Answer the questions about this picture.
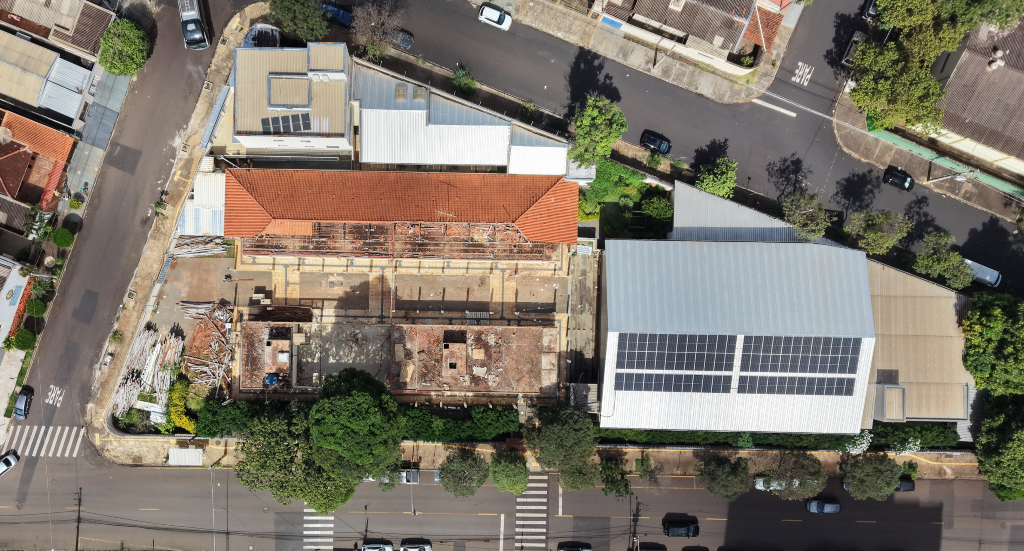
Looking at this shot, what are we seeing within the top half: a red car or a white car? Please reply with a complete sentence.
What appears within the top half is a white car.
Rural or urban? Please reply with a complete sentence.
The area shown here is urban.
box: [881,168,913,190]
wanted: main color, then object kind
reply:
black car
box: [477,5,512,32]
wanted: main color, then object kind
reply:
white car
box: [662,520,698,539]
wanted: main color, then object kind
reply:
black car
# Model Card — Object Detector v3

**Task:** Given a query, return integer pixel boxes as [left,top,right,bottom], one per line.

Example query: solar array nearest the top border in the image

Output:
[261,113,311,134]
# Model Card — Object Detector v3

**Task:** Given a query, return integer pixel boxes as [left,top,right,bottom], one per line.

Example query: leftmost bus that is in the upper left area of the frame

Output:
[180,0,217,55]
